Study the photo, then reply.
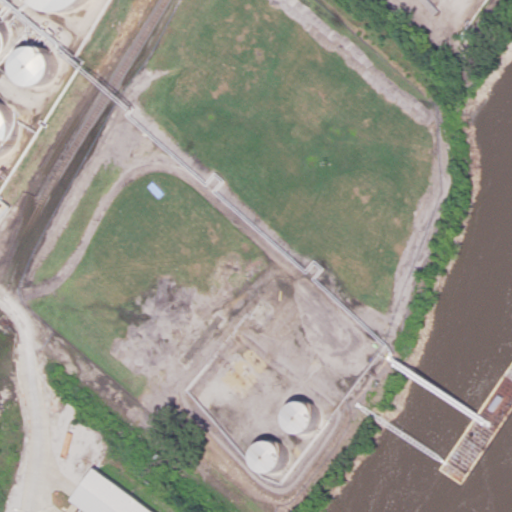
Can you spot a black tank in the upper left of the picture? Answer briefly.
No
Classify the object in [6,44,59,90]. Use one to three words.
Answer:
storage tank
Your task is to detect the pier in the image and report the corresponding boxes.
[440,364,512,485]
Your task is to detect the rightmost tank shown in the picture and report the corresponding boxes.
[278,397,322,436]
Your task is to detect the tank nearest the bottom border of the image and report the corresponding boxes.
[245,436,289,474]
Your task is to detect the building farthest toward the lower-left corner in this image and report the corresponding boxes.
[69,467,148,512]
